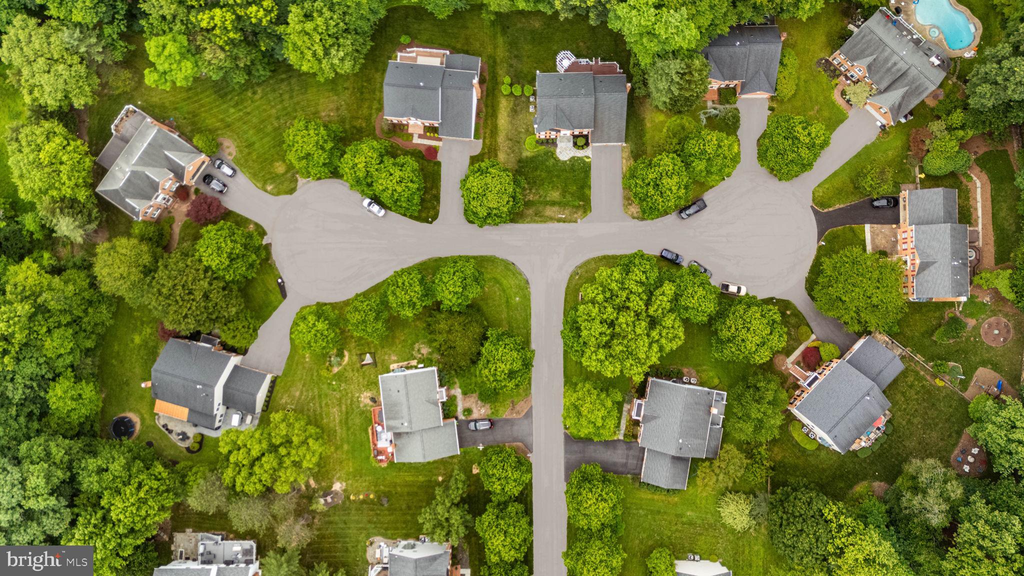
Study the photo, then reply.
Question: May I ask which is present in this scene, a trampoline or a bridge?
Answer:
trampoline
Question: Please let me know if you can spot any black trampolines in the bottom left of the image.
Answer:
Yes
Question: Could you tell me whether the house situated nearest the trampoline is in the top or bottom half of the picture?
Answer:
bottom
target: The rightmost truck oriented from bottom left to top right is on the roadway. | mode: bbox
[680,197,708,219]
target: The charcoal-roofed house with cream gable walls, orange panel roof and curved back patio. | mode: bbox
[140,334,274,430]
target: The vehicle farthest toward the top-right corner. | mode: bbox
[873,195,899,207]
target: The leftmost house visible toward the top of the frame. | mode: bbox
[96,104,210,222]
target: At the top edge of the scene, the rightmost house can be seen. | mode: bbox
[830,5,952,128]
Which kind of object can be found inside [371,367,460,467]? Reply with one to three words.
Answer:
house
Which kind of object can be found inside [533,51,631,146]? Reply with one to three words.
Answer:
house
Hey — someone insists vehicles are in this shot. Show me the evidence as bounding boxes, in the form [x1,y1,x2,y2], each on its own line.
[680,197,708,219]
[468,420,492,431]
[720,283,748,295]
[687,259,712,277]
[210,157,235,177]
[201,174,226,193]
[361,198,384,217]
[873,195,899,207]
[659,248,684,264]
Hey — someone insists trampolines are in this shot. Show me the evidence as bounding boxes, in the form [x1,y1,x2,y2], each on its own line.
[101,417,134,442]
